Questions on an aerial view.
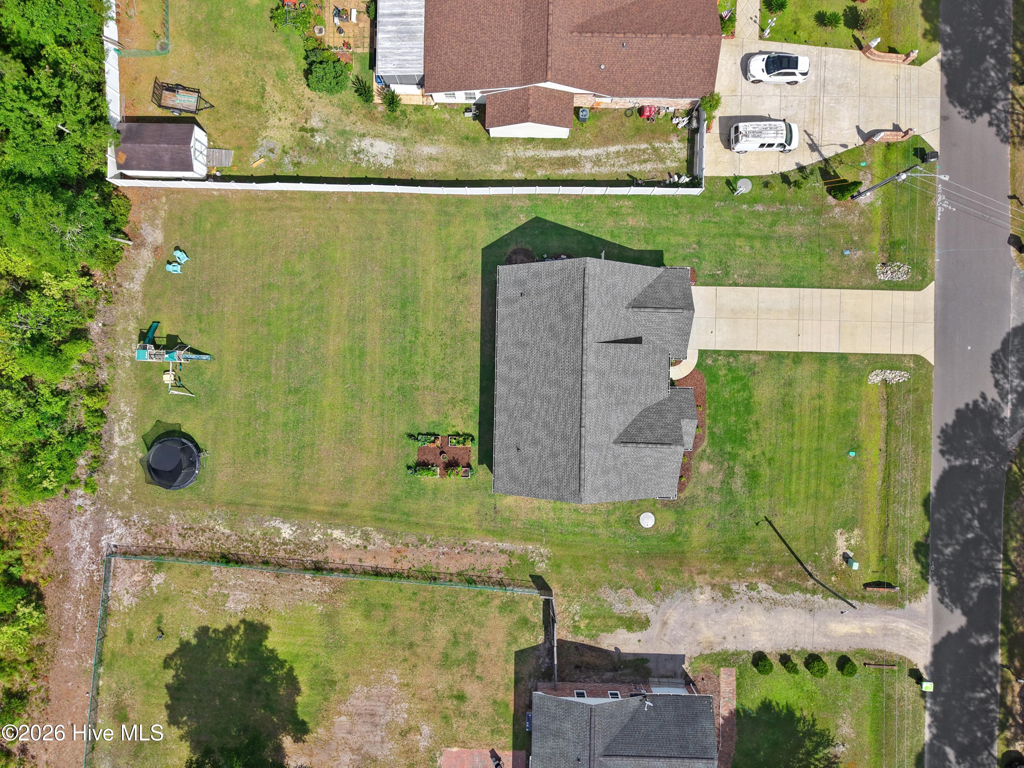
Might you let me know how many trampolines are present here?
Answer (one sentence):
The picture shows 1 trampoline.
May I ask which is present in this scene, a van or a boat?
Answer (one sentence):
Looking from above, you can make out a van.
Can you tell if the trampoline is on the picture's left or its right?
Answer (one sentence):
It is on the left.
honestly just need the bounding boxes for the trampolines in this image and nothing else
[138,436,204,490]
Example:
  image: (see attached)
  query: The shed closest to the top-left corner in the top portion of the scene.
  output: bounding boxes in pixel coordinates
[107,124,207,177]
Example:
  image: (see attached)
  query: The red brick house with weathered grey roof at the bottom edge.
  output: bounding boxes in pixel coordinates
[530,682,721,768]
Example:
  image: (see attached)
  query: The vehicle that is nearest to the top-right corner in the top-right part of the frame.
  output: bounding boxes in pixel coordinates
[748,51,812,85]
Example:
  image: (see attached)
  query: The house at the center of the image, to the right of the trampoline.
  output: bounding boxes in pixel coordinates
[491,250,698,503]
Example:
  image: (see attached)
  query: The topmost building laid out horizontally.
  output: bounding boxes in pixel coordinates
[425,0,721,137]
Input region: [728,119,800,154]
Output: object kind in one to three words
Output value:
van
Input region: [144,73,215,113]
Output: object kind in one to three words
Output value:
trailer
